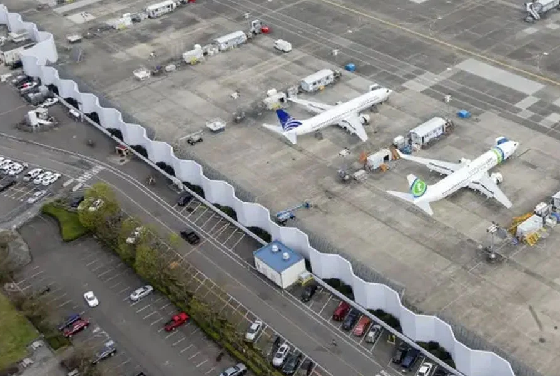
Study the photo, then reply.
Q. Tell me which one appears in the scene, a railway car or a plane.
plane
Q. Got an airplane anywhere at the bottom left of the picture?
No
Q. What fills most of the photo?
paved ground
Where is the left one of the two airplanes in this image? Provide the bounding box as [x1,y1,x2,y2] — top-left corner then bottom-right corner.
[276,88,391,146]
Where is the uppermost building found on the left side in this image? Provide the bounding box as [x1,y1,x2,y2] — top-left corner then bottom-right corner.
[143,0,176,21]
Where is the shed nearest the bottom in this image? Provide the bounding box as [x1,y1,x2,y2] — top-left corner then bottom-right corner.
[252,237,306,289]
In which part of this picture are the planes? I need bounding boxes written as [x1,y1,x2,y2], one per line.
[276,88,391,146]
[400,141,518,214]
